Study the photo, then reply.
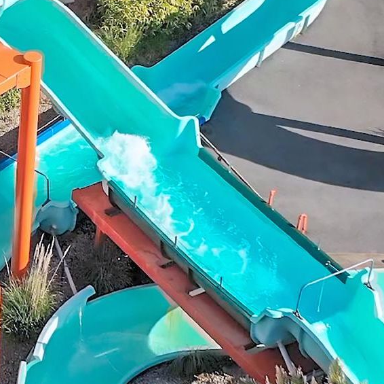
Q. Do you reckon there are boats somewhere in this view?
No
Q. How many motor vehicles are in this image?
zero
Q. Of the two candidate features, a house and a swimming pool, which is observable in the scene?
swimming pool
